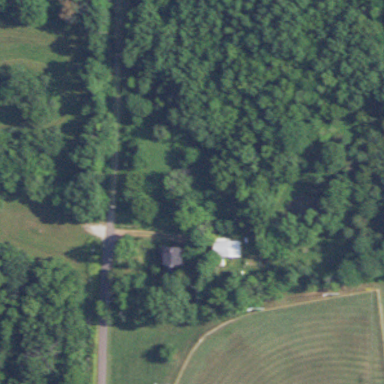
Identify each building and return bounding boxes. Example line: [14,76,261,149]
[214,239,242,258]
[163,248,185,268]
